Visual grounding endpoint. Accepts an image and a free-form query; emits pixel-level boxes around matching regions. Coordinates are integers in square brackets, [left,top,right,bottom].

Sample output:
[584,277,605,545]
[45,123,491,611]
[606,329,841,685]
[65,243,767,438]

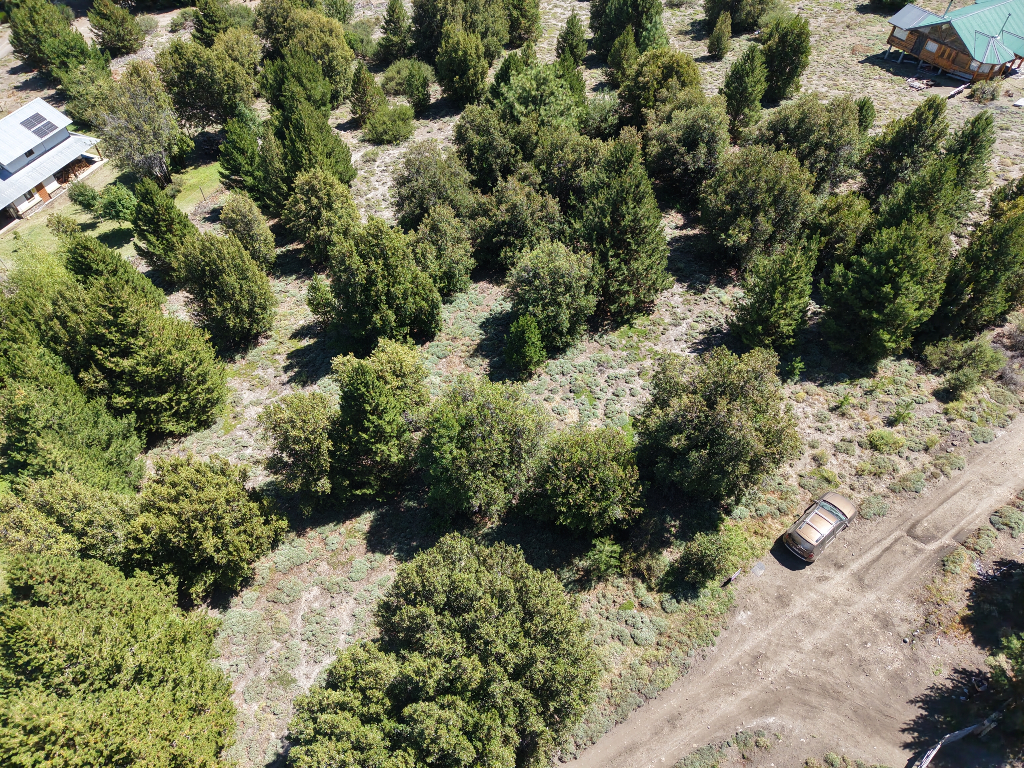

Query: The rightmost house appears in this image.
[884,0,1024,86]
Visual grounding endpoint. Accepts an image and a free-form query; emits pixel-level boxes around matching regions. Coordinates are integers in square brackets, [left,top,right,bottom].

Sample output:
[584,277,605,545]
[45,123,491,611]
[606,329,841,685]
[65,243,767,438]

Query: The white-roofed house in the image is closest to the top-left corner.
[0,96,109,215]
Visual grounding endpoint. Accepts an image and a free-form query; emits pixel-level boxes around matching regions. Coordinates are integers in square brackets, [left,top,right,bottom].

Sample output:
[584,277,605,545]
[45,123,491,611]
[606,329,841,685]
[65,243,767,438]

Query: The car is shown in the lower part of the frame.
[785,493,855,560]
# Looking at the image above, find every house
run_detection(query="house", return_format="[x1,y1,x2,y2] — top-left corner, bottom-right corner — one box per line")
[884,0,1024,86]
[0,96,109,215]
